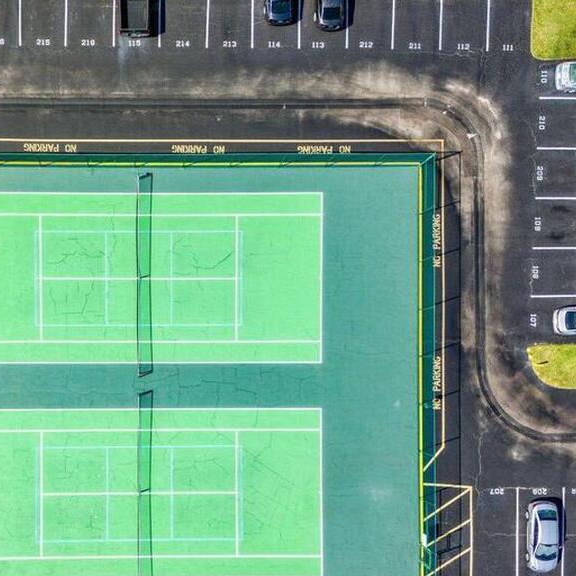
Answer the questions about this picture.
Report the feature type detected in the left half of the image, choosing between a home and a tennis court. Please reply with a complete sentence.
Visible in the left half of the image is a tennis court.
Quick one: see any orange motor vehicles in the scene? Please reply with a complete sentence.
No, no orange motor vehicle is visible in the view.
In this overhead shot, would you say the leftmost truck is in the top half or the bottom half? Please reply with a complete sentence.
The leftmost truck sits in the top half of the picture.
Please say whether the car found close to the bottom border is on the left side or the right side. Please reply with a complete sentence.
The car found close to the bottom border appears in the right half of the scene.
